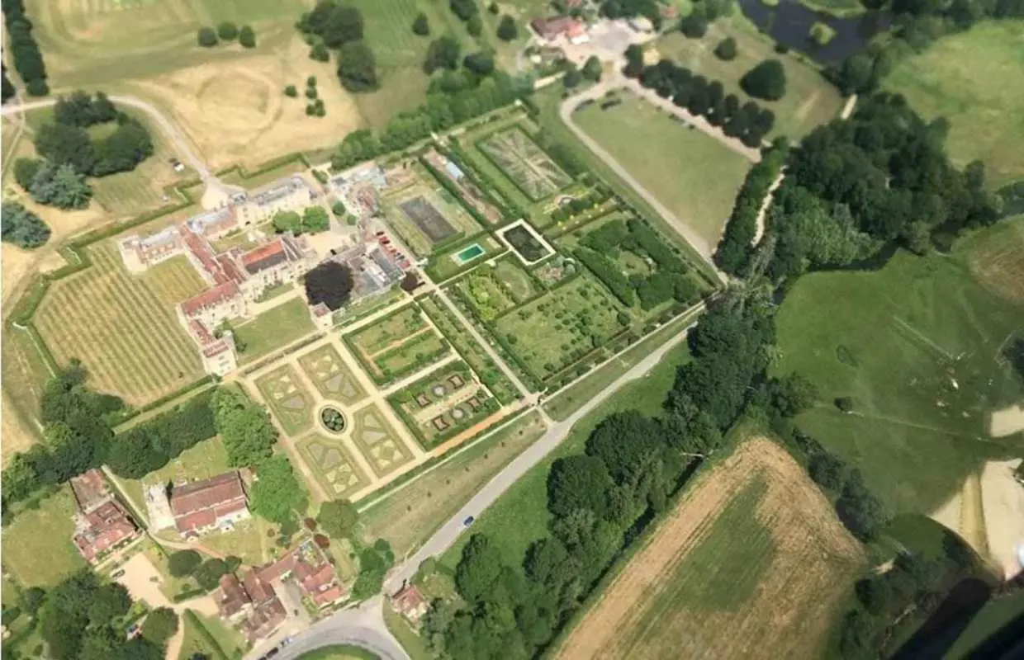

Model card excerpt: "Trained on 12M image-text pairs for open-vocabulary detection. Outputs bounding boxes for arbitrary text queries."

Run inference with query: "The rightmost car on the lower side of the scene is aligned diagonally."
[461,514,476,528]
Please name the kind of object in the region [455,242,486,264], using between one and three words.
swimming pool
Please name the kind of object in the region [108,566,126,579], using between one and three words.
vehicle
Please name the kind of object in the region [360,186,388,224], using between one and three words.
house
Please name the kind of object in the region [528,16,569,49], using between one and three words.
barn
